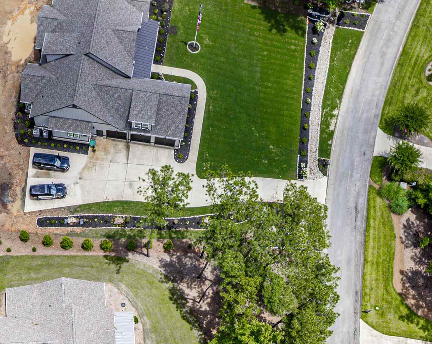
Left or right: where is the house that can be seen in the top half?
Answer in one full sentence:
The house that can be seen in the top half is on the left side of the image.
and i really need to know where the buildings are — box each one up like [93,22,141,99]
[0,278,136,344]
[20,0,191,147]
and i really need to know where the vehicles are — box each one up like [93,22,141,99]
[37,148,74,170]
[31,183,65,201]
